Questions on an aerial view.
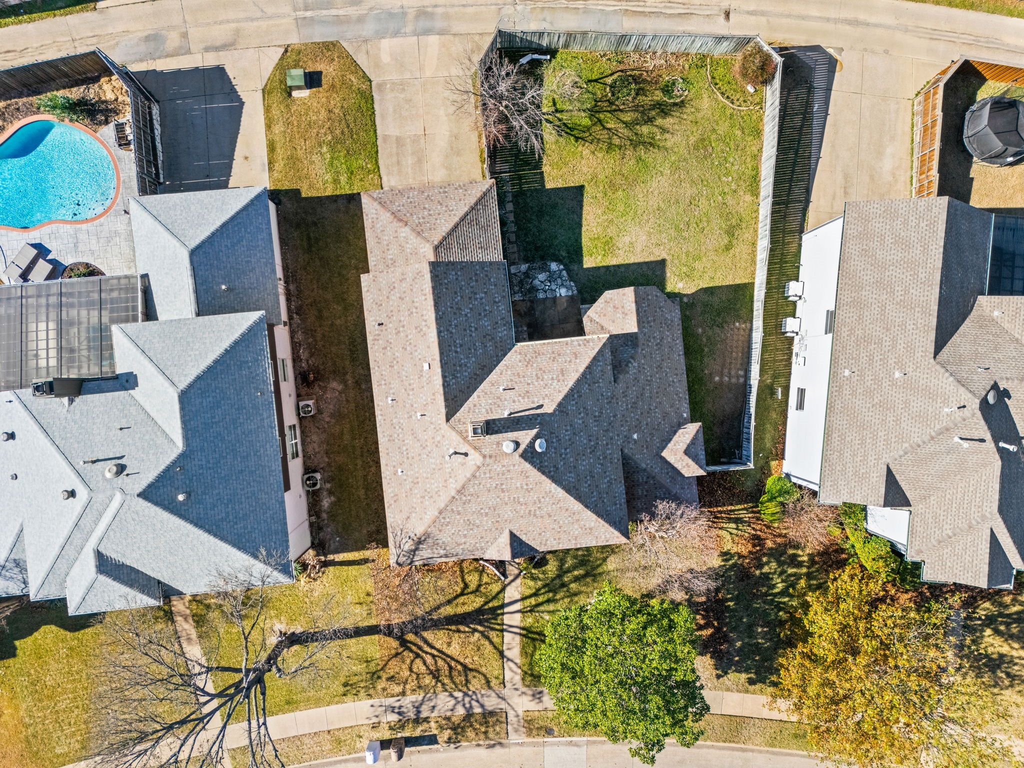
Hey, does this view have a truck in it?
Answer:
No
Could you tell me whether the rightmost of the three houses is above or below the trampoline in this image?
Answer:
below it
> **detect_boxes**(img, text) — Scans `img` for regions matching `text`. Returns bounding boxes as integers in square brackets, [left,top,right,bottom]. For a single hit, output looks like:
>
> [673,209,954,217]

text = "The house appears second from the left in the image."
[360,179,708,568]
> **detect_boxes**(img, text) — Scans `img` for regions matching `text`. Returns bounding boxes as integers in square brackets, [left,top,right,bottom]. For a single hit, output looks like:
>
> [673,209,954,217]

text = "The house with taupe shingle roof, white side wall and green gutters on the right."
[781,196,1024,589]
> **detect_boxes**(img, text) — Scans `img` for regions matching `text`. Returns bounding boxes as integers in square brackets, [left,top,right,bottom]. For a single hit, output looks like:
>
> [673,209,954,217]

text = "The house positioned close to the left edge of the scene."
[0,185,311,617]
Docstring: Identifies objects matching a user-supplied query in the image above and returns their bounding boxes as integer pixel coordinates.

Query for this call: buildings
[360,179,708,568]
[781,196,1024,589]
[0,185,311,617]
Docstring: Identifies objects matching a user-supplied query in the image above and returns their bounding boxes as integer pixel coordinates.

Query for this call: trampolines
[949,86,1024,173]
